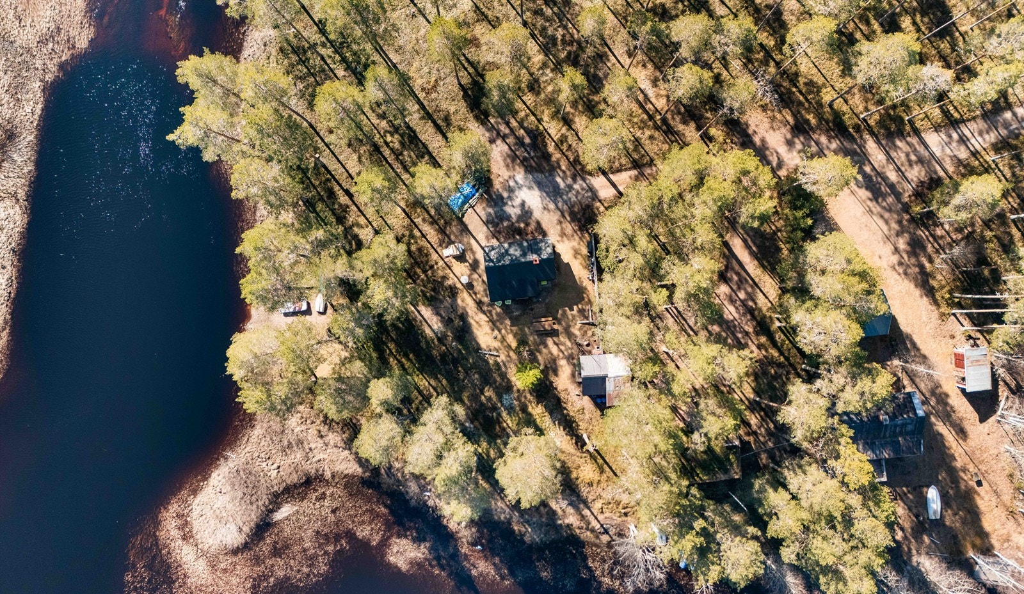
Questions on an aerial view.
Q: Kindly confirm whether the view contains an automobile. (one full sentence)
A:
No, there is no automobile in the image.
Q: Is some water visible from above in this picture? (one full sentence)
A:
Yes, water can be seen from above here.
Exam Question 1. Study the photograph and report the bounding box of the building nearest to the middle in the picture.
[483,238,556,302]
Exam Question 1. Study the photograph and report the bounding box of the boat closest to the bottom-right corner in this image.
[925,484,939,520]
